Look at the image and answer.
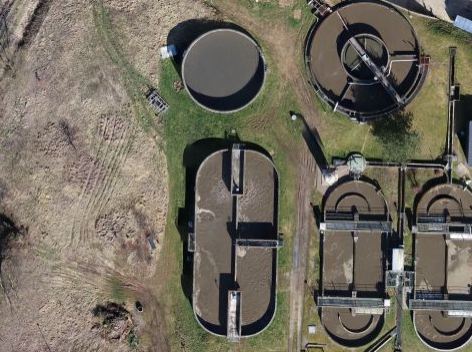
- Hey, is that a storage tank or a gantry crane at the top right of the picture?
storage tank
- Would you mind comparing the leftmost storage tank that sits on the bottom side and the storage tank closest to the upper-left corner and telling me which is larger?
the leftmost storage tank that sits on the bottom side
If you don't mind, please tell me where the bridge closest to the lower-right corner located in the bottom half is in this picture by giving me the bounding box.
[413,294,472,319]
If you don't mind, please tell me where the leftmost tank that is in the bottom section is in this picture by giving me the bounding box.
[188,144,284,343]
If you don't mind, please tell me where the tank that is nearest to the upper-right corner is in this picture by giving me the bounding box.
[306,0,426,119]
